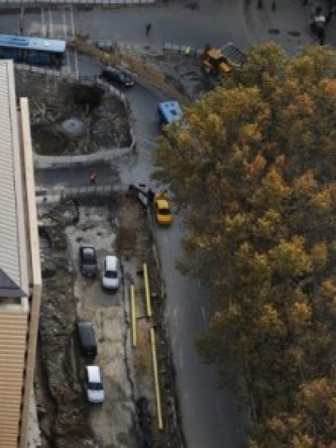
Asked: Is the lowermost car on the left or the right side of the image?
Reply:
left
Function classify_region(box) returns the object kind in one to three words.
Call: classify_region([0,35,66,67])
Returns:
bus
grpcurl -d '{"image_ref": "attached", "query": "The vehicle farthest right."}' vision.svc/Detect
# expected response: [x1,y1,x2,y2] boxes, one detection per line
[190,32,231,82]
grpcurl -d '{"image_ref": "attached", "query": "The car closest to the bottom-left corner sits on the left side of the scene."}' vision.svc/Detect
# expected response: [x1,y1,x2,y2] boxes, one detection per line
[86,369,106,400]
